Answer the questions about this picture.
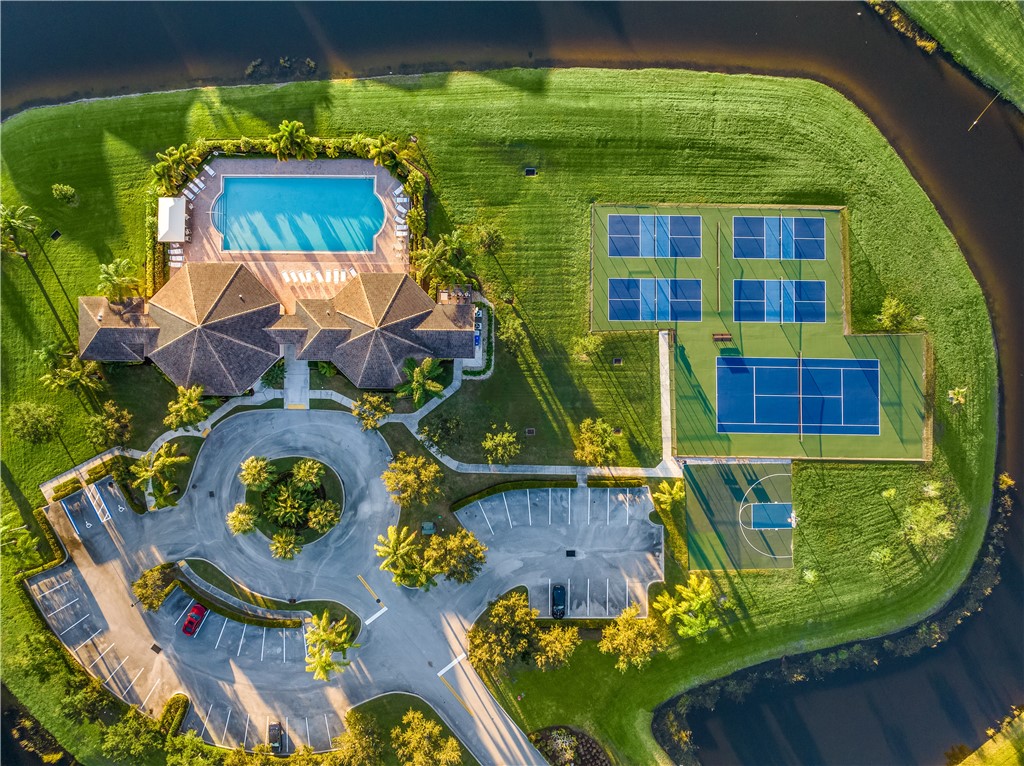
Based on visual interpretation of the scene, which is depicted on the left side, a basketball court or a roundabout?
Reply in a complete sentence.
You can see a roundabout on the left side.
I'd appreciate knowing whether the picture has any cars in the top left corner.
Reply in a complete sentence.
No, the scene shows no car in the top left corner.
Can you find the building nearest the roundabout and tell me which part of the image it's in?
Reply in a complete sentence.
The building nearest the roundabout is located in the left region of the scene.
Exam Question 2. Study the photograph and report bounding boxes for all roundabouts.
[198,415,384,601]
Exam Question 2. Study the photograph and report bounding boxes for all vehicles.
[265,722,282,755]
[550,585,566,619]
[180,605,207,637]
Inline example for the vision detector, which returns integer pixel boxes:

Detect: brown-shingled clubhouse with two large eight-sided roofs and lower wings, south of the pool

[78,262,475,395]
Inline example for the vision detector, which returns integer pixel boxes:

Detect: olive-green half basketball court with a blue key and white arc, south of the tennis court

[684,464,793,570]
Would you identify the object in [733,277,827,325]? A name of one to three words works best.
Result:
sports court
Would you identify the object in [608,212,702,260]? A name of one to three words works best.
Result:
sports court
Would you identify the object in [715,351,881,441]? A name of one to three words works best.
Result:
tennis court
